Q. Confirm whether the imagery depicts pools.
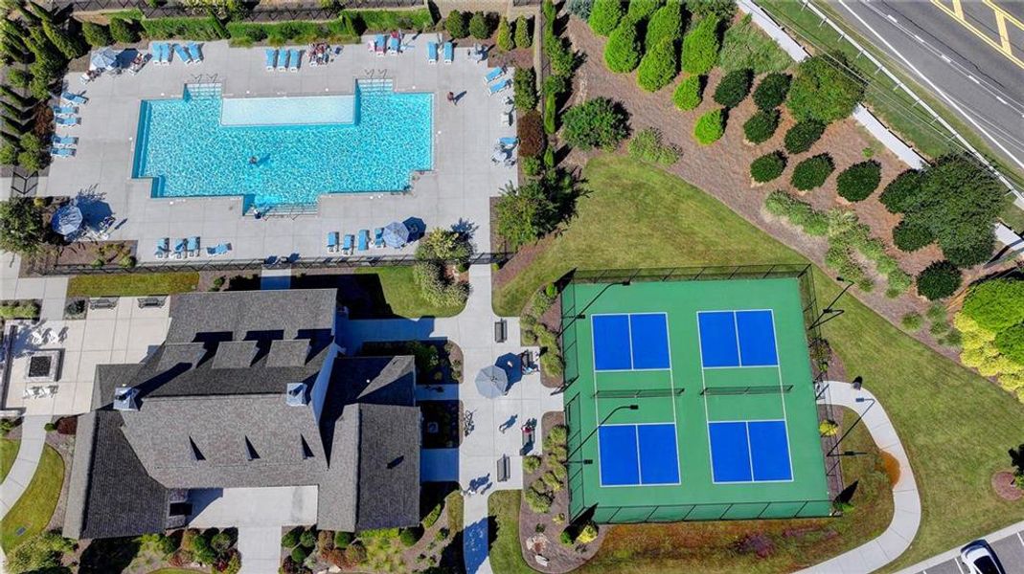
Yes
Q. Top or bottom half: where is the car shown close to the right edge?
bottom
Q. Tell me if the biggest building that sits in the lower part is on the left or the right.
left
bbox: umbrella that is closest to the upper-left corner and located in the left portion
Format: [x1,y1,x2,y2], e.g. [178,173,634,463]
[94,48,122,75]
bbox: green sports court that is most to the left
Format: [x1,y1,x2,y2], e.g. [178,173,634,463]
[560,280,701,522]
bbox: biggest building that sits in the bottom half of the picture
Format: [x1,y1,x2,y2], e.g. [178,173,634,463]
[62,289,421,543]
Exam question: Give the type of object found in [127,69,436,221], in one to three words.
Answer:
swimming pool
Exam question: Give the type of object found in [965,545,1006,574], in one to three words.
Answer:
car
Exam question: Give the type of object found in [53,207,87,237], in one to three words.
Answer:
umbrella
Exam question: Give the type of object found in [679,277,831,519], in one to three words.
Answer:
sports court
